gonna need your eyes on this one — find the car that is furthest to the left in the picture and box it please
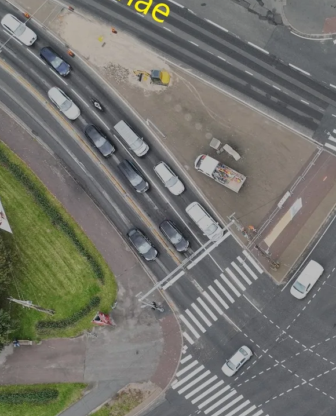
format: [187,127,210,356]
[0,10,39,48]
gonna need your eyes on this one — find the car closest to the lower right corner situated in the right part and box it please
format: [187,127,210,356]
[220,343,256,379]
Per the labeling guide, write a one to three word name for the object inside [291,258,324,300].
car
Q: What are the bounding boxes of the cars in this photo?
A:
[110,116,151,158]
[45,83,82,122]
[149,158,187,198]
[156,217,192,255]
[81,121,117,159]
[220,343,256,379]
[291,258,324,300]
[115,155,152,196]
[36,44,73,78]
[0,10,39,48]
[124,225,161,264]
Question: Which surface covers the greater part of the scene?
paved ground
